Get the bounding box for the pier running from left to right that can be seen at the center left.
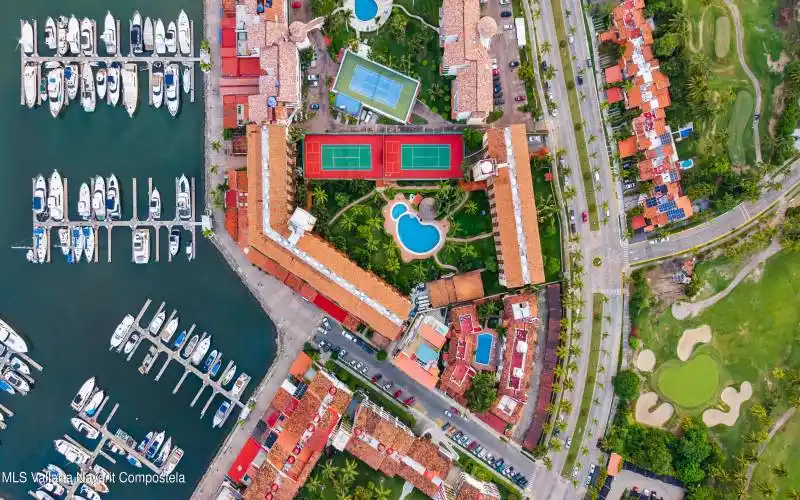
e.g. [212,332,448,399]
[30,178,202,262]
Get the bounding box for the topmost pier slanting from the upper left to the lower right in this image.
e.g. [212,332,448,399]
[118,299,252,428]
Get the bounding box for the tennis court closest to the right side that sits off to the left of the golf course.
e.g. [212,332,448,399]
[384,133,465,180]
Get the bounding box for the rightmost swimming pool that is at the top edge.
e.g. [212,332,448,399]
[345,0,393,32]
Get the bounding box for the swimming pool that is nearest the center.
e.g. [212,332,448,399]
[384,194,450,262]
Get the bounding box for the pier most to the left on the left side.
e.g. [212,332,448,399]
[0,338,44,428]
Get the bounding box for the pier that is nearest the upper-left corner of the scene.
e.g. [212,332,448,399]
[18,19,200,104]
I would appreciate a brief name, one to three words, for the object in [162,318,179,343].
boat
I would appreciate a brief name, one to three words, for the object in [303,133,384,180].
tennis court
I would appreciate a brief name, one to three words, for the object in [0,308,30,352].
boat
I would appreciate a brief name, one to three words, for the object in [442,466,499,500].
building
